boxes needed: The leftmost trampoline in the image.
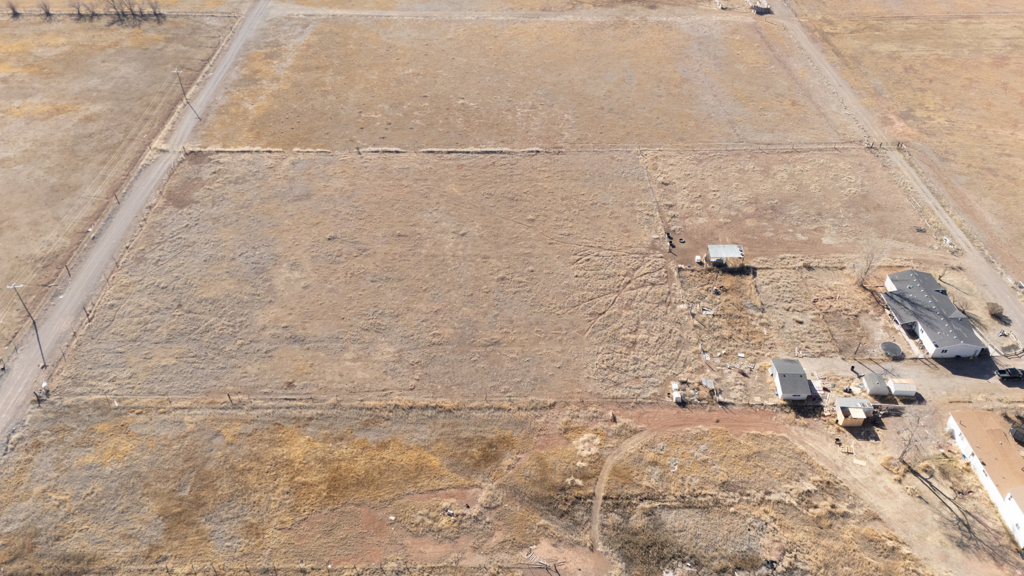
[878,340,903,359]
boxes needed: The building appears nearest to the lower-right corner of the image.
[944,409,1024,551]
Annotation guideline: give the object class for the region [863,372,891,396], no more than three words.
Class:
shed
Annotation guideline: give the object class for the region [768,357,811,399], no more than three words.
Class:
shed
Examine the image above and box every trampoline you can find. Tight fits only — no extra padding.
[1006,419,1024,448]
[878,340,903,359]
